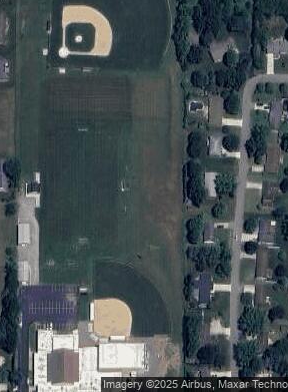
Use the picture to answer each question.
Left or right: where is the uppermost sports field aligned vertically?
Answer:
left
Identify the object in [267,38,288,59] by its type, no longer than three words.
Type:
house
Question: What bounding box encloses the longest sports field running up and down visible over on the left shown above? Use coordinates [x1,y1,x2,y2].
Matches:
[40,75,136,291]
